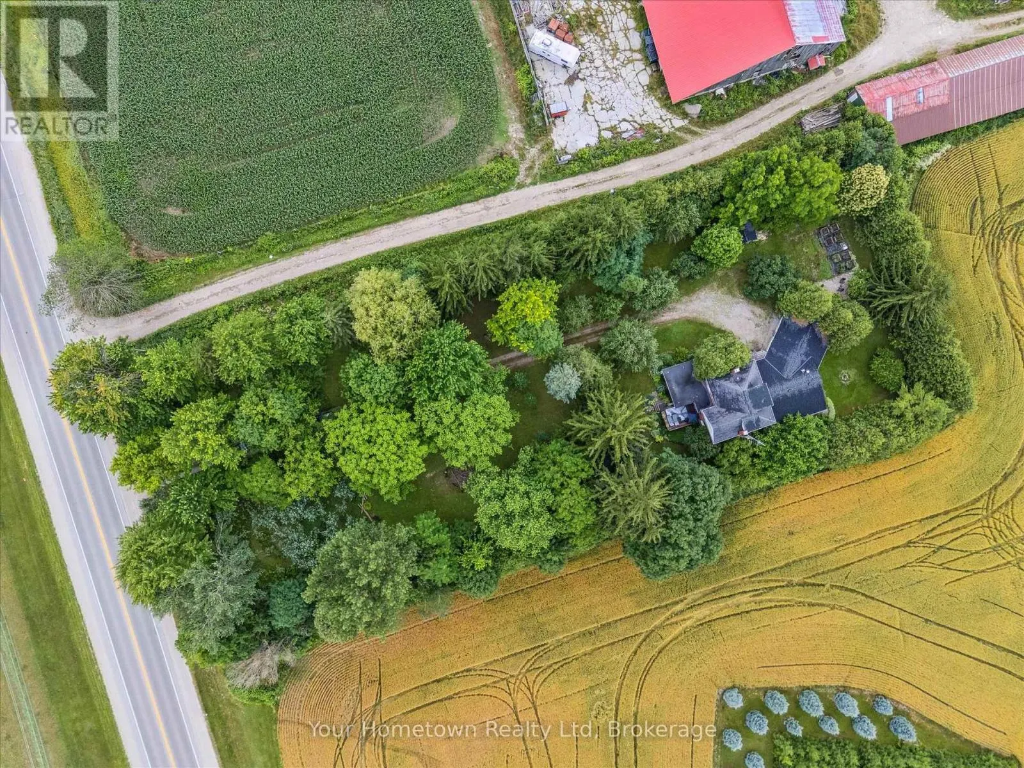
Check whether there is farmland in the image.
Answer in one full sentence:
Yes, some farmland is visible.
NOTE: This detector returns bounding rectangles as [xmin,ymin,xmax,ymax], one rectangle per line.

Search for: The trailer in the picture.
[527,31,579,69]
